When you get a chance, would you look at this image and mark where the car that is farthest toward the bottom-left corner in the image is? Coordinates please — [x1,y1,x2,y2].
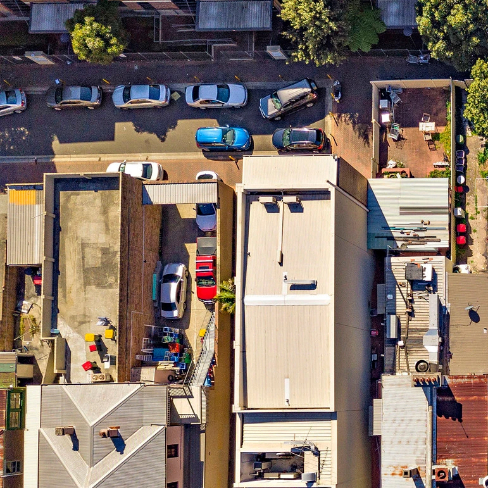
[158,261,190,319]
